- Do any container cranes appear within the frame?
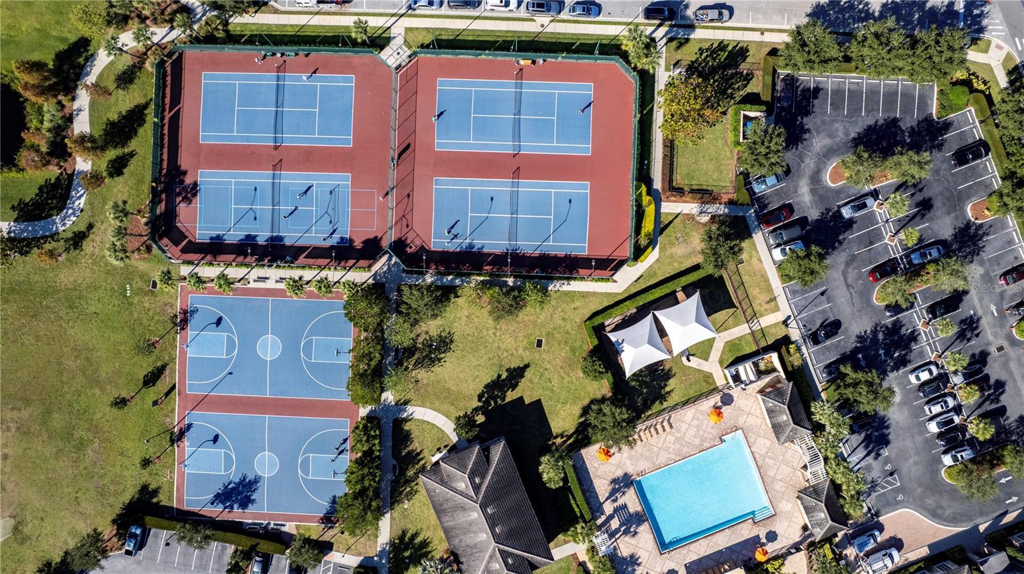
No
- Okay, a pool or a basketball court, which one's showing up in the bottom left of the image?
basketball court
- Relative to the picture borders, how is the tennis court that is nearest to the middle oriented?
horizontally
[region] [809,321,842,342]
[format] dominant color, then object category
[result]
black car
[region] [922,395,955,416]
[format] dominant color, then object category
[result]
white car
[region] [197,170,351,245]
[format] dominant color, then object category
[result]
blue tennis court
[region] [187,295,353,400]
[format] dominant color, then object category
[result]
blue basketball court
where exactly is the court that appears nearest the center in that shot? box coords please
[432,178,590,254]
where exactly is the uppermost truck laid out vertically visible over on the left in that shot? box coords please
[123,522,145,560]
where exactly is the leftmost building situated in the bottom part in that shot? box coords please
[419,431,554,574]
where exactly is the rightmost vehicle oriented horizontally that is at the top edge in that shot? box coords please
[692,8,729,24]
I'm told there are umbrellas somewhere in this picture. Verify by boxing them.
[754,546,769,562]
[597,448,612,462]
[708,409,723,424]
